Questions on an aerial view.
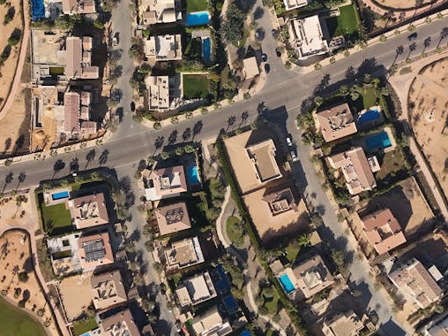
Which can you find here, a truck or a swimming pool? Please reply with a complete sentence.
The image shows a swimming pool.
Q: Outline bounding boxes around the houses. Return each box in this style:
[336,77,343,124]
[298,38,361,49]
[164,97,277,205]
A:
[248,136,281,182]
[167,233,205,269]
[43,86,99,135]
[284,0,314,10]
[316,103,358,141]
[156,199,191,235]
[143,0,182,24]
[360,207,406,254]
[73,190,110,229]
[57,36,102,81]
[146,35,182,61]
[321,305,376,336]
[90,265,130,311]
[385,250,447,308]
[53,0,98,14]
[141,164,188,201]
[264,183,307,217]
[100,303,142,336]
[290,17,343,61]
[292,253,334,298]
[150,74,179,109]
[192,304,235,336]
[326,143,382,191]
[429,309,448,336]
[177,267,216,308]
[78,227,115,266]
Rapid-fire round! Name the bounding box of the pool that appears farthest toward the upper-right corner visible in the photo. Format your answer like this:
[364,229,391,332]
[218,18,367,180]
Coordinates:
[362,108,385,127]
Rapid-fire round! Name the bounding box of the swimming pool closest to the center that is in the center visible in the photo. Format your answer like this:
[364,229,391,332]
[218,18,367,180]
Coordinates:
[188,162,201,185]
